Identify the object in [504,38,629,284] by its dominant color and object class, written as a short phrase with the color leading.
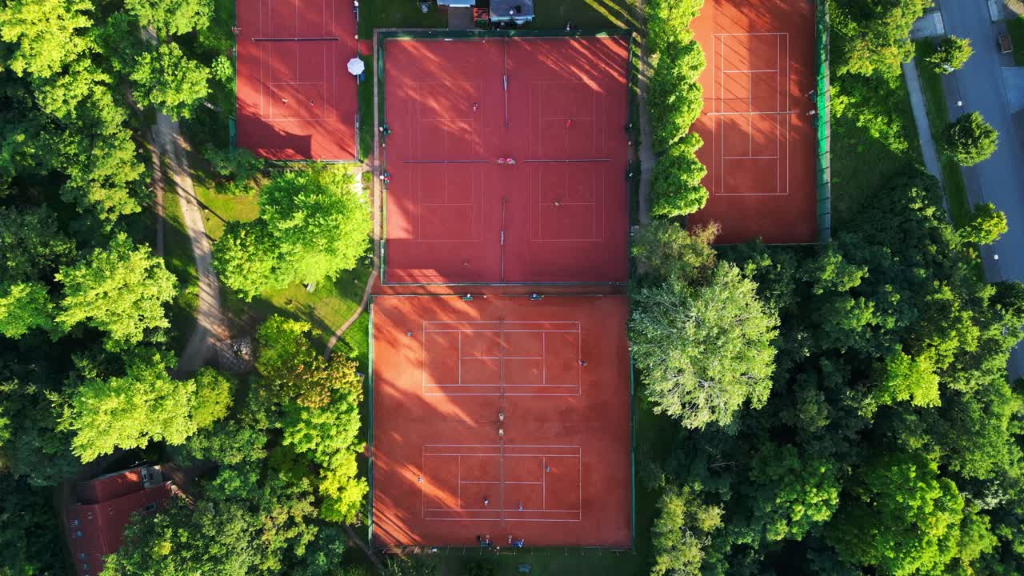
red tennis court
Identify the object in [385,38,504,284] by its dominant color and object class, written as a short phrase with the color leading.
red tennis court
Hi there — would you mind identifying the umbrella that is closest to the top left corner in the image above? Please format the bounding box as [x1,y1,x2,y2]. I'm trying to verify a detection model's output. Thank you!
[346,58,363,76]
